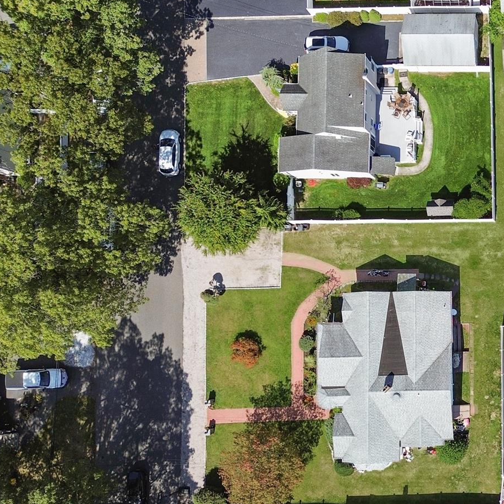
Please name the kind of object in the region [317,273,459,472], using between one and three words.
house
